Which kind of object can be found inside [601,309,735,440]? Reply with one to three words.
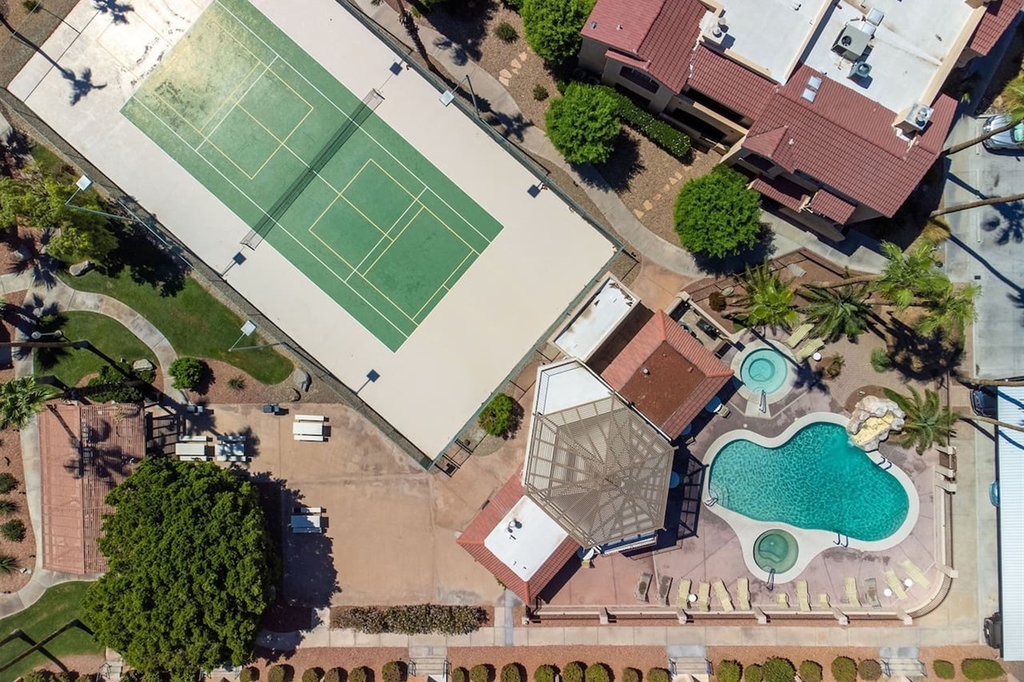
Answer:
building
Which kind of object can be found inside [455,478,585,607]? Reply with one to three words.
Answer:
building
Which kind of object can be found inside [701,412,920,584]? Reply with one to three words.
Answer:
swimming pool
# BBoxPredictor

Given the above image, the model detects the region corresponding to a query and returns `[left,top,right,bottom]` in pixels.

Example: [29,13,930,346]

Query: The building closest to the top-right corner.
[580,0,1019,259]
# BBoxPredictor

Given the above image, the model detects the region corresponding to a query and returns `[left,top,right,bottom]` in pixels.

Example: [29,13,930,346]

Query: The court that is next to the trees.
[9,0,618,460]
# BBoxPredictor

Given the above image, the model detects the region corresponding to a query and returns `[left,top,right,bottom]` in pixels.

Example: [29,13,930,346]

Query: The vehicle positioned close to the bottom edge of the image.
[982,612,1001,648]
